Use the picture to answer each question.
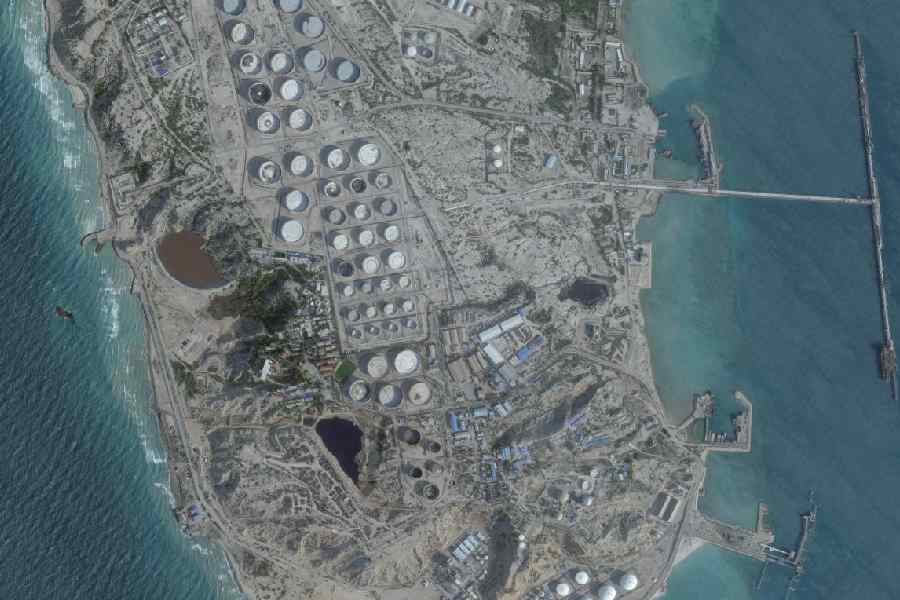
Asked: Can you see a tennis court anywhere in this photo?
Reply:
No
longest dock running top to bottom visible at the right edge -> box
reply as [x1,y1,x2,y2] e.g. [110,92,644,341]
[853,30,889,345]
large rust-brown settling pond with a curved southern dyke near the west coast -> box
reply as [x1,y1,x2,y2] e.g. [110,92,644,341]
[159,232,233,289]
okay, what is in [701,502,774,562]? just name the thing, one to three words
pier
